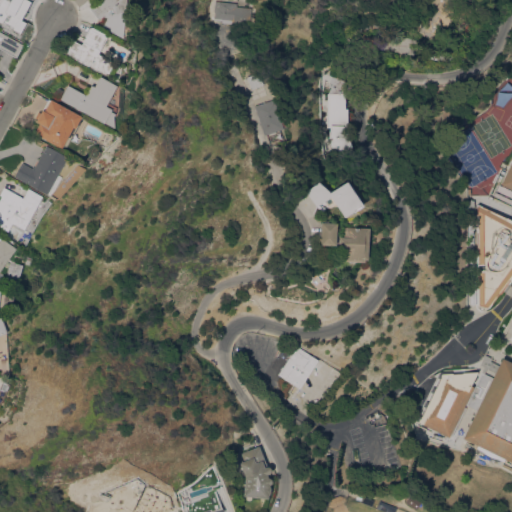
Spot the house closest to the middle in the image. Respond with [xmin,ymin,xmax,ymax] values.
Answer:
[322,224,338,246]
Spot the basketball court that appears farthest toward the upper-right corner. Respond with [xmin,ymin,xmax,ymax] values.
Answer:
[474,114,511,158]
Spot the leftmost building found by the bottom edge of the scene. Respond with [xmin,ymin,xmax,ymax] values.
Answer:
[241,446,273,498]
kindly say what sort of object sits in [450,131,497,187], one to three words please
basketball court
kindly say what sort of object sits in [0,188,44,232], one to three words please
house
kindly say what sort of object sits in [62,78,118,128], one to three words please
house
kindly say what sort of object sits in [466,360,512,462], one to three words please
building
